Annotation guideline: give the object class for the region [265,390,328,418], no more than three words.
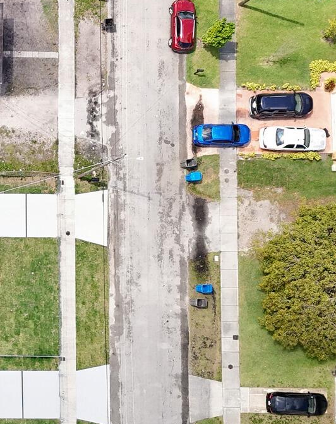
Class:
car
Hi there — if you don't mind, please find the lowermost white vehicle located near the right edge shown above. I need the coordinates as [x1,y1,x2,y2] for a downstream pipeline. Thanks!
[259,124,328,154]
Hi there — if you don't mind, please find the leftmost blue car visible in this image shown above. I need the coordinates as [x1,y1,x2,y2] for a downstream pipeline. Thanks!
[193,122,252,149]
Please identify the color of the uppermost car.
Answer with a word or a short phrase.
red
